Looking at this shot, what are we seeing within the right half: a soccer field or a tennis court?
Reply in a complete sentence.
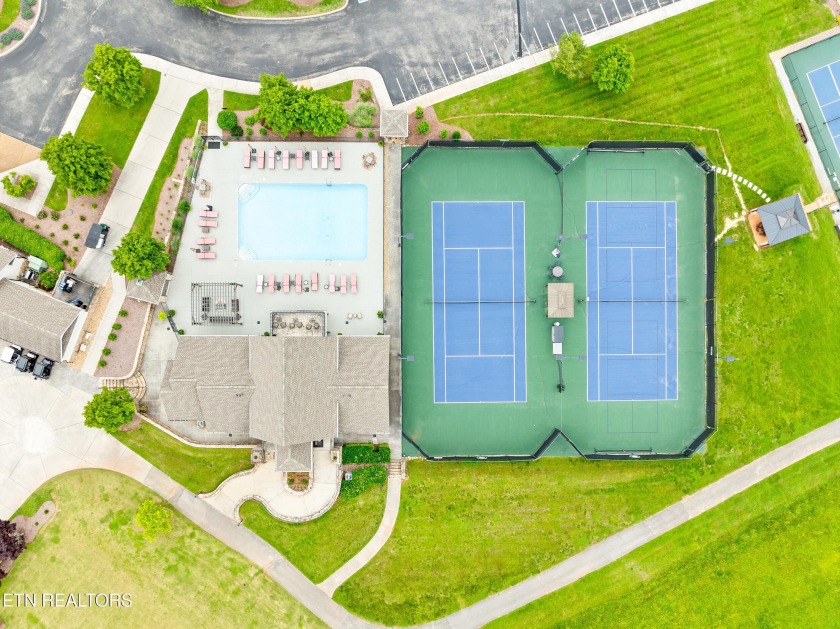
It is a tennis court that can be seen within the right half.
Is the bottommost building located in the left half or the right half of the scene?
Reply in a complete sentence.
The bottommost building appears in the left half of the scene.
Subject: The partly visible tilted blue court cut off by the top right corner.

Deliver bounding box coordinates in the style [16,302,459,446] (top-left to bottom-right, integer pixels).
[783,34,840,222]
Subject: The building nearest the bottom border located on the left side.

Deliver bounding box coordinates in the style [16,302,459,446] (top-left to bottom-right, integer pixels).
[160,335,390,473]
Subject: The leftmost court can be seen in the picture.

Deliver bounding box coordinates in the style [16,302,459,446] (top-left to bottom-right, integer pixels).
[403,147,563,458]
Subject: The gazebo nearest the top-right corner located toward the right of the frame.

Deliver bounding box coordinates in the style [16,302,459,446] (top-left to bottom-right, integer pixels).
[747,194,810,247]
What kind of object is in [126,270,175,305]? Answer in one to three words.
building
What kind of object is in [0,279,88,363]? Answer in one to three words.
barn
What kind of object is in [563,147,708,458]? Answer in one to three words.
tennis court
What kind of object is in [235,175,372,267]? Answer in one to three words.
swimming pool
